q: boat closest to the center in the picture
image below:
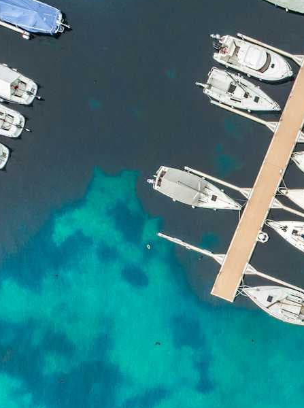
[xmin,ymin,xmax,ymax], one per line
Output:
[152,164,240,214]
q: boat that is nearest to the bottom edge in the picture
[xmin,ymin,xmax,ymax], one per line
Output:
[237,285,304,325]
